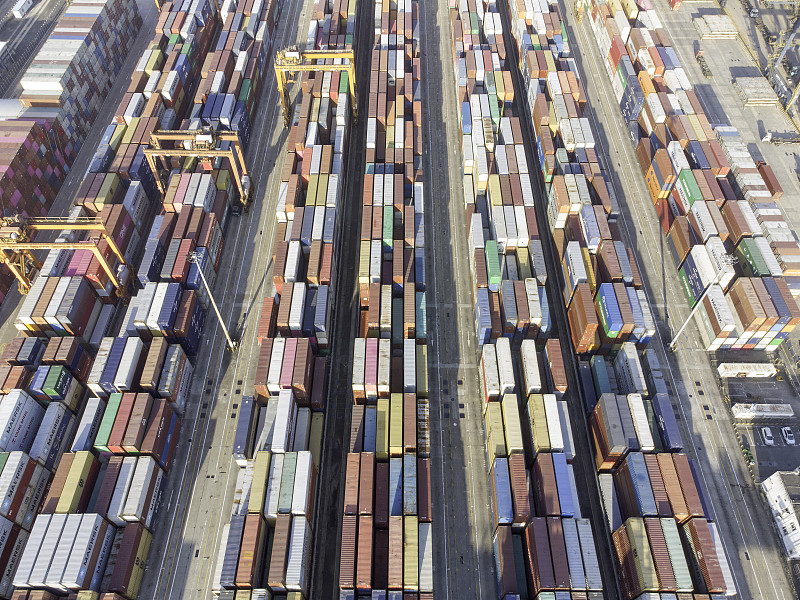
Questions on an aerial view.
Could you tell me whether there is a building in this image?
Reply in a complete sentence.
Yes, there's a building here.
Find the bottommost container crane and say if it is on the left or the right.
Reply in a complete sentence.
The bottommost container crane sits on the left side.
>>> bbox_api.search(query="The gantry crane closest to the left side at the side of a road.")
[0,220,137,299]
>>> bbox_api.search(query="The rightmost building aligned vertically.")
[757,467,800,562]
